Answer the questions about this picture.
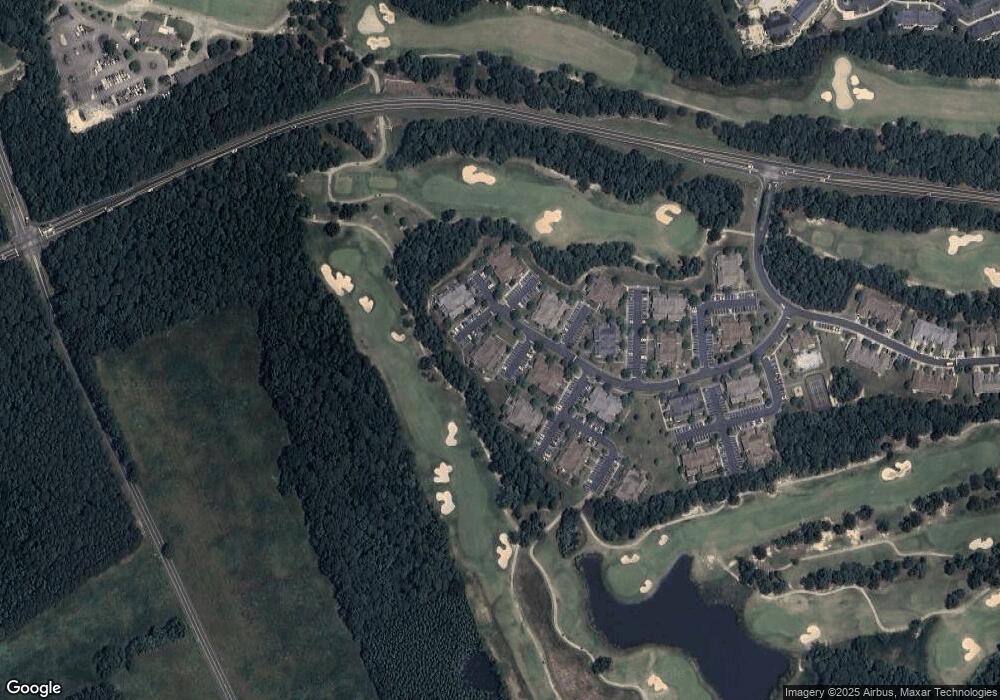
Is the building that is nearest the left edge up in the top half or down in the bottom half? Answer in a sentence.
It is in the top half that the building that is nearest the left edge appears.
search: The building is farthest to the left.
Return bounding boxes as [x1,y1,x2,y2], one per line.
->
[138,19,180,51]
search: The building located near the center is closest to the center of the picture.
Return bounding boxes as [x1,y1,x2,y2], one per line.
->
[466,336,510,379]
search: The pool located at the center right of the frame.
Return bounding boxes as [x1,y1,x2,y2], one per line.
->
[797,350,822,371]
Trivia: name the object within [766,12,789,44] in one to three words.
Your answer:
building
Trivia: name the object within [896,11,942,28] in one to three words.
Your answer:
building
